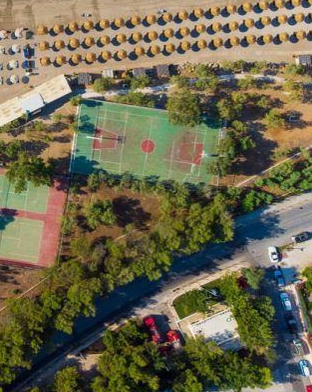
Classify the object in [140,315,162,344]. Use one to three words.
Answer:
truck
